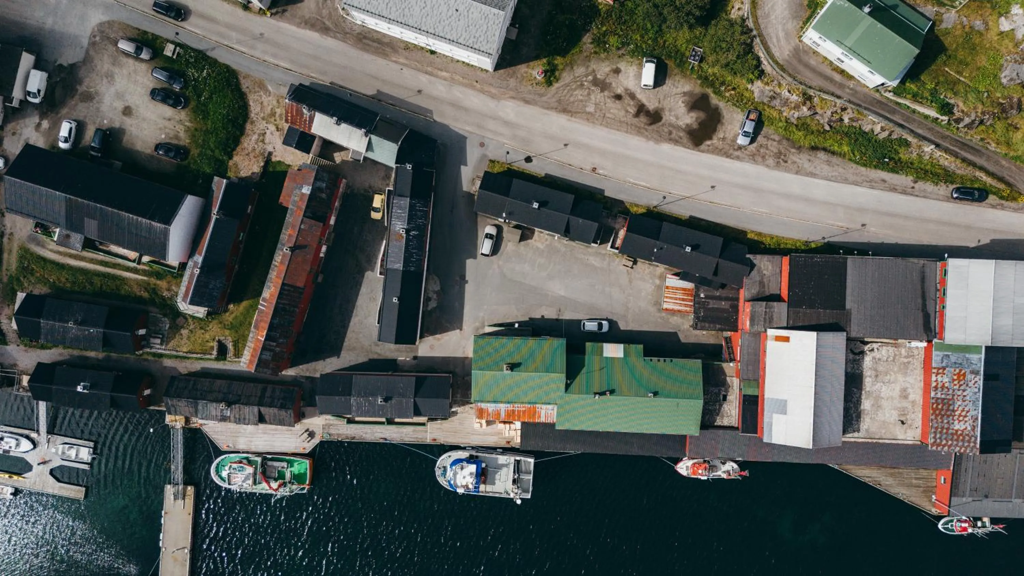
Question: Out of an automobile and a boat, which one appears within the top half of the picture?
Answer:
automobile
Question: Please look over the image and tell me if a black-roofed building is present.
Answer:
Yes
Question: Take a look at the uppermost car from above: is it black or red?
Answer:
black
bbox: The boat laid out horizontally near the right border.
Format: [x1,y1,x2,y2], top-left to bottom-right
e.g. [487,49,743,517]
[935,516,1008,540]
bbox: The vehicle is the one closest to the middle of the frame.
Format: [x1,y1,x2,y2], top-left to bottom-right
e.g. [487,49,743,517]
[479,224,497,257]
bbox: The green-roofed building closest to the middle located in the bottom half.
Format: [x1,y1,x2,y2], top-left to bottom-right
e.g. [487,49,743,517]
[472,326,565,421]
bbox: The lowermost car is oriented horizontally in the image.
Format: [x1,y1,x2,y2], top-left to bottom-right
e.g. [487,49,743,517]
[580,319,610,334]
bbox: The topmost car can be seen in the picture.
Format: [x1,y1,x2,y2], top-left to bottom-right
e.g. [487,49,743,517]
[147,0,185,21]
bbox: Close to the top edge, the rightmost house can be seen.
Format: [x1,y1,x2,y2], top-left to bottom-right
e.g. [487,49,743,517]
[806,0,932,91]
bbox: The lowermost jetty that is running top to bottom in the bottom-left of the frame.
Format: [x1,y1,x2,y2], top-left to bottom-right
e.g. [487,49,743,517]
[158,483,196,576]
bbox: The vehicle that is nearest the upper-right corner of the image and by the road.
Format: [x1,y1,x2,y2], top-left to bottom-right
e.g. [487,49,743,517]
[953,185,991,201]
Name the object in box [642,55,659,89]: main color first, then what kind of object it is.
white vehicle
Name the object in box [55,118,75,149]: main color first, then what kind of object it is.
white car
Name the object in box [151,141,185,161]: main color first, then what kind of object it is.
black car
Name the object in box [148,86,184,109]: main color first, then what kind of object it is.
black car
